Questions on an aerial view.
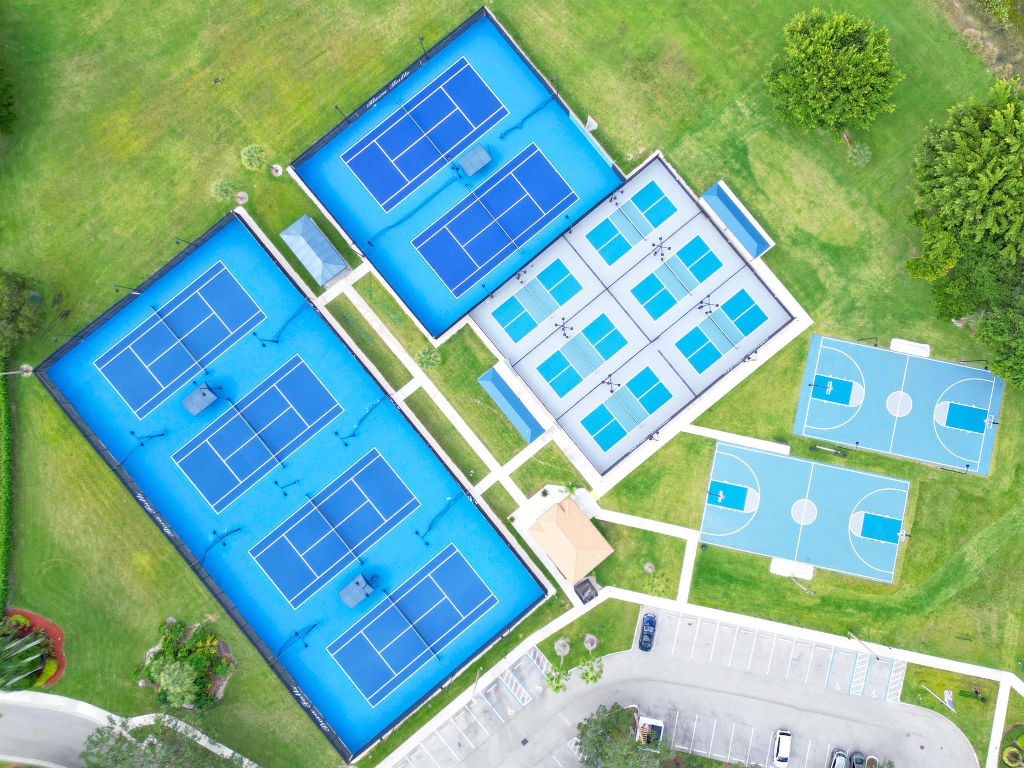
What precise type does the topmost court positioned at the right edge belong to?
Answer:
basketball court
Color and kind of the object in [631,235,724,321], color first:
blue sports court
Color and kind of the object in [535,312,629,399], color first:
blue sports court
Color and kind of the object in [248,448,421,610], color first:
blue tennis court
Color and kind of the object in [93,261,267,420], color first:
blue tennis court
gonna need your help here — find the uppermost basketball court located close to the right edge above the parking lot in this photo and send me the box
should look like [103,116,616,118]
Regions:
[793,335,1005,477]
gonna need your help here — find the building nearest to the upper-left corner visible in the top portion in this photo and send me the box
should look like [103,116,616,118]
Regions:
[279,214,348,287]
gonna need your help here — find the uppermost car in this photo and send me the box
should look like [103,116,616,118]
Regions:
[640,615,656,650]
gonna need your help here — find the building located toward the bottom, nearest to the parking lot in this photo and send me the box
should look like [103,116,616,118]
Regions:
[528,496,615,586]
